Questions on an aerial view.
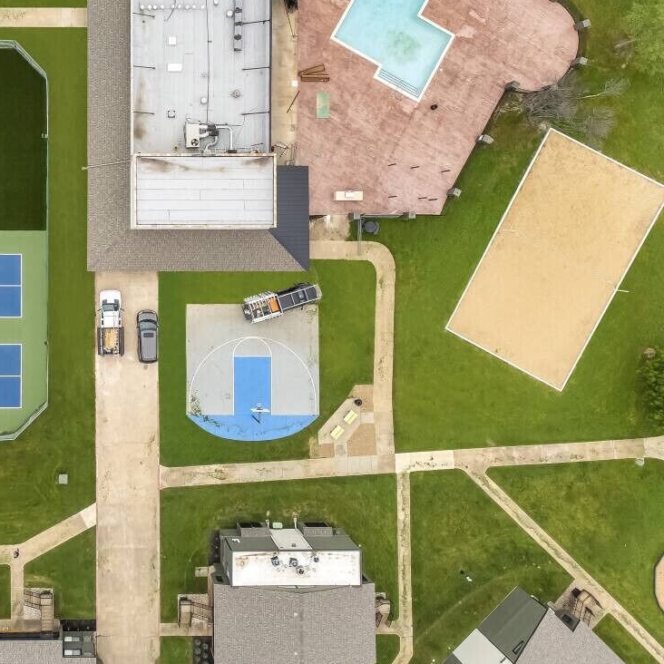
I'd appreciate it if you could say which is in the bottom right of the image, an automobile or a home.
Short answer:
home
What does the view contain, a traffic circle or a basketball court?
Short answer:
basketball court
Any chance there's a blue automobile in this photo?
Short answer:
No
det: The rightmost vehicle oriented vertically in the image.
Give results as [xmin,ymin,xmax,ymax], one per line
[136,309,162,364]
